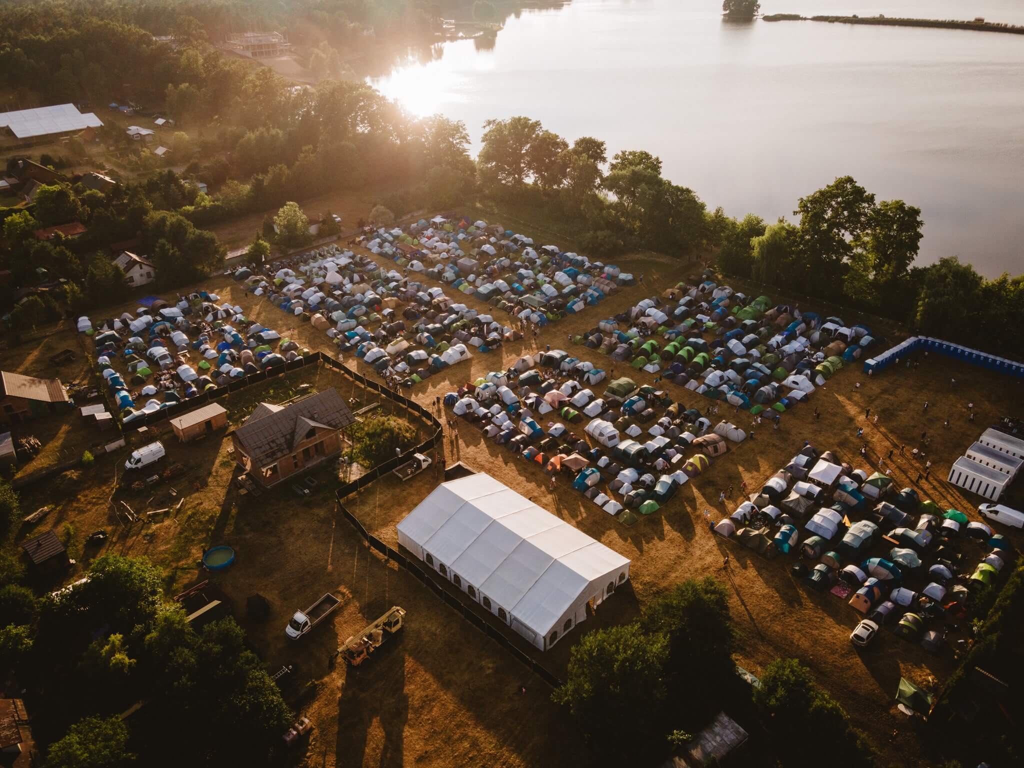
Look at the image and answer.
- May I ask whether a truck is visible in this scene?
Yes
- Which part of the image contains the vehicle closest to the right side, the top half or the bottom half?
bottom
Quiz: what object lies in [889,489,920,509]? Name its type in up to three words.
tent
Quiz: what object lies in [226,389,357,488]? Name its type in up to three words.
house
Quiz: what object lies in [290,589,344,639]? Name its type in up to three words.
truck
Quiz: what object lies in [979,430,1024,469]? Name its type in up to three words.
building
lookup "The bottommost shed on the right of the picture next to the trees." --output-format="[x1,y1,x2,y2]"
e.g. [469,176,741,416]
[680,699,755,768]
